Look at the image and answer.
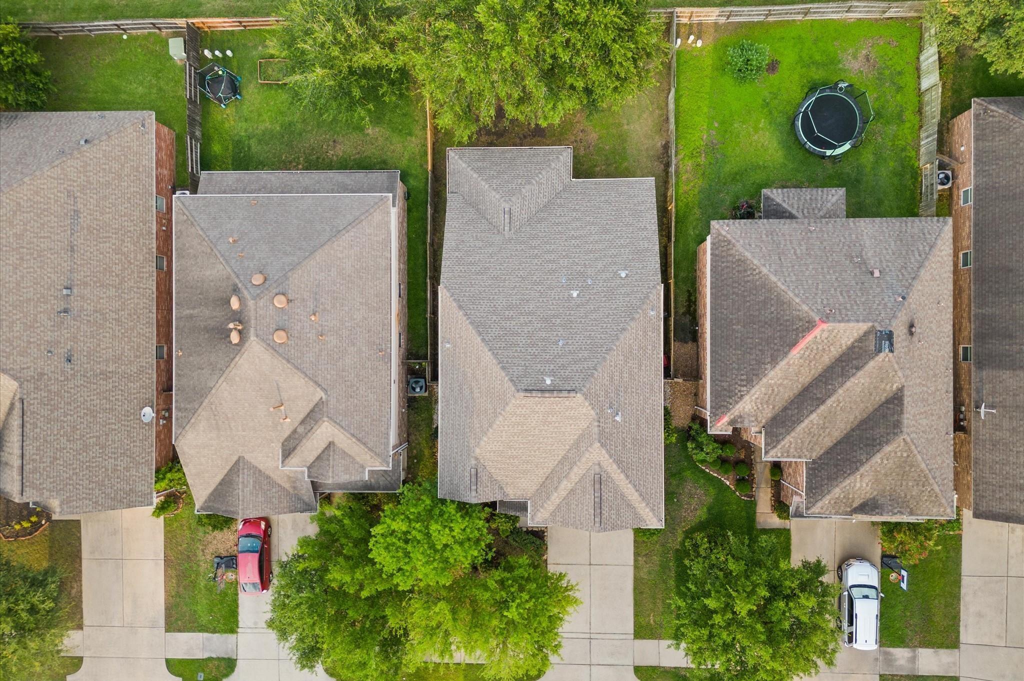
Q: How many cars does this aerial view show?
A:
2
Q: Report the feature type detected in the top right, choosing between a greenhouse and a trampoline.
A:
trampoline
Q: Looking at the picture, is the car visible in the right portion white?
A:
Yes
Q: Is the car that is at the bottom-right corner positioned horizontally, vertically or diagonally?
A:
vertically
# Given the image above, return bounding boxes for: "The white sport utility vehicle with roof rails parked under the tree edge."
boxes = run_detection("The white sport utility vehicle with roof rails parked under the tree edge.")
[836,557,882,651]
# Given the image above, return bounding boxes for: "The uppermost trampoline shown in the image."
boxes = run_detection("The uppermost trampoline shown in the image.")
[197,62,241,107]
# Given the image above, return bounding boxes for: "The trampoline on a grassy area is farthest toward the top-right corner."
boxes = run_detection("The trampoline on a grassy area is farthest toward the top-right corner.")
[788,77,877,166]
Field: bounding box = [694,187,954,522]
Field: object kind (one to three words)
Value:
house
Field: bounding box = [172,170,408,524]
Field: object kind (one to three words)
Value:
house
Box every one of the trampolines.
[197,62,241,107]
[788,77,877,166]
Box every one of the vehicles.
[836,557,882,651]
[234,520,273,593]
